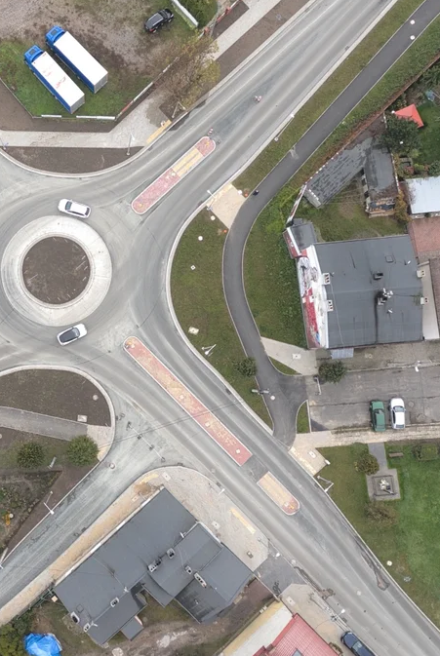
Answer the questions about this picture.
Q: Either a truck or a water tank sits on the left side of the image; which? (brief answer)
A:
truck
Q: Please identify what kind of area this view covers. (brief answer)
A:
residential area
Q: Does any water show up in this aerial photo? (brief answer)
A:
No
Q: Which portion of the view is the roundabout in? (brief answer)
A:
left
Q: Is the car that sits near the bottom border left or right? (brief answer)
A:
right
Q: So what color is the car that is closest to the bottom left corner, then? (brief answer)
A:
white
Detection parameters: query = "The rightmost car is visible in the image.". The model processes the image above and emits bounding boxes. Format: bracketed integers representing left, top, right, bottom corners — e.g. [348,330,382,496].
[389,398,407,429]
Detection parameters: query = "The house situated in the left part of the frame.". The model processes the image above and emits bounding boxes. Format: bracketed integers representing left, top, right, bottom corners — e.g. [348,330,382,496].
[52,486,253,646]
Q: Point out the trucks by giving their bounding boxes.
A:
[20,41,84,112]
[41,23,107,92]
